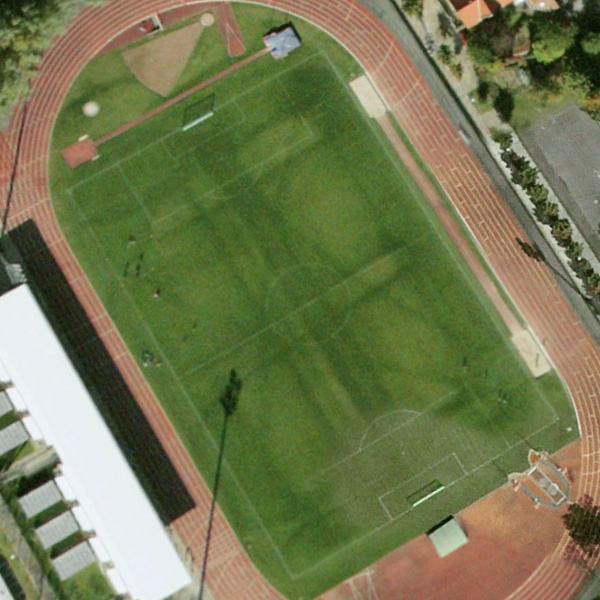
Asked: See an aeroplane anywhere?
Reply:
No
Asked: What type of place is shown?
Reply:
sports ground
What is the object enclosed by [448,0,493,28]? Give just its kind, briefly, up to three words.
house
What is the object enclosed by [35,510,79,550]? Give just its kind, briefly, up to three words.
shed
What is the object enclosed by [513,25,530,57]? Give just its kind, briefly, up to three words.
shed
